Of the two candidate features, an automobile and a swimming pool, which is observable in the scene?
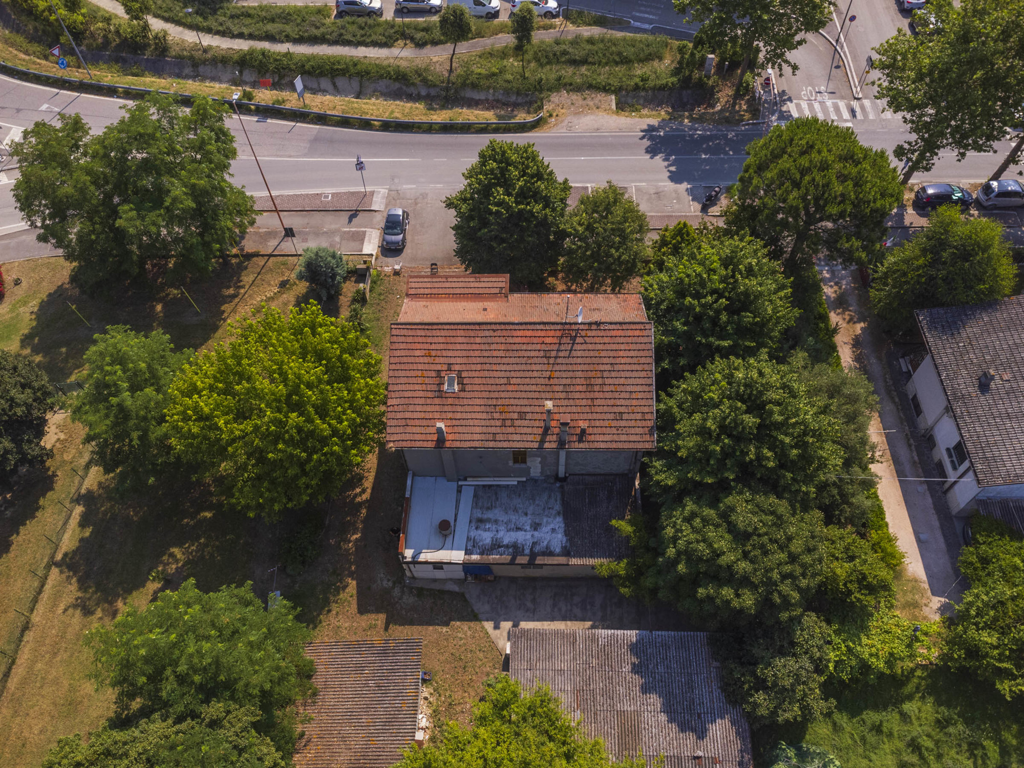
automobile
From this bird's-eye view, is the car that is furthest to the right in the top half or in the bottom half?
top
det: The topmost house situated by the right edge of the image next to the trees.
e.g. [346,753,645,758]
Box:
[905,290,1024,516]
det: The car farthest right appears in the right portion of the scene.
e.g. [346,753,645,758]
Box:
[990,182,1024,210]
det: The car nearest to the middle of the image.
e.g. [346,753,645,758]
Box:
[378,203,407,242]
